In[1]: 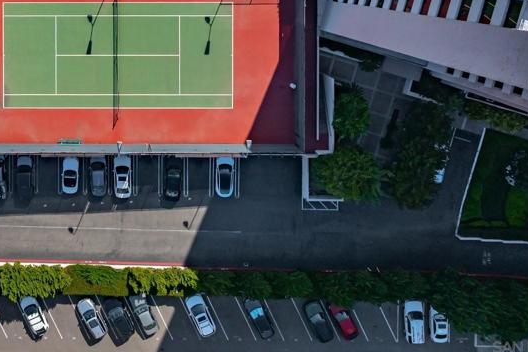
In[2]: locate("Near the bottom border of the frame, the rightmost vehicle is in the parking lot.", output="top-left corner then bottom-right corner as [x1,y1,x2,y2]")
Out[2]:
[428,304,449,344]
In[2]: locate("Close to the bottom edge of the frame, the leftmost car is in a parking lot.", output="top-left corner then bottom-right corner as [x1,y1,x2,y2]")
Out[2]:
[20,297,49,340]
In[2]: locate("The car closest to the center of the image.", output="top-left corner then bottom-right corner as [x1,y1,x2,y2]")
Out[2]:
[216,157,234,196]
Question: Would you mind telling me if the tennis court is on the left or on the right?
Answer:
left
